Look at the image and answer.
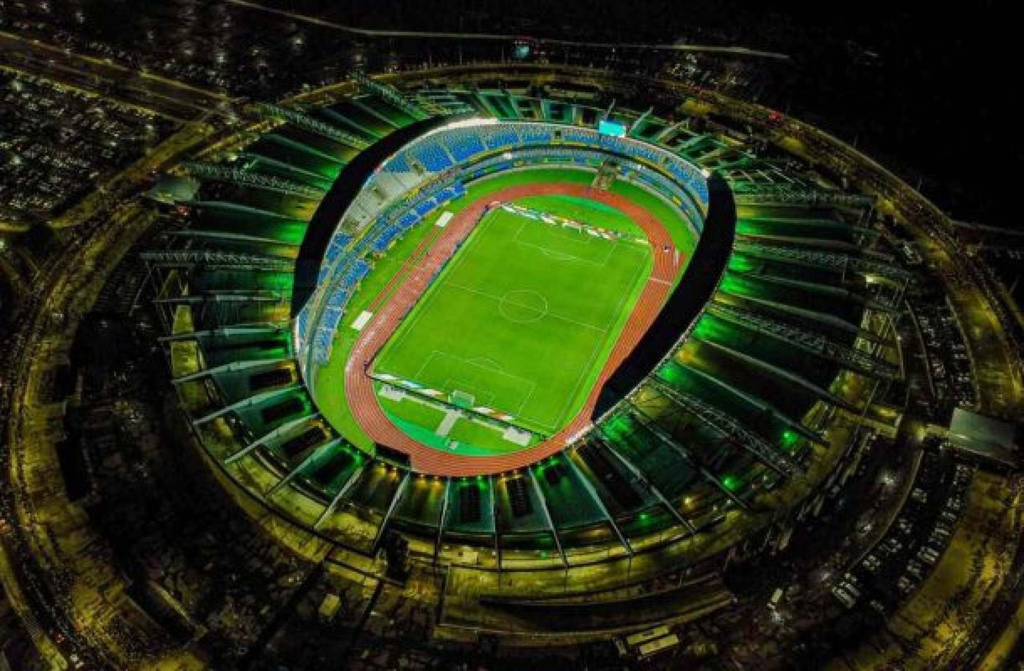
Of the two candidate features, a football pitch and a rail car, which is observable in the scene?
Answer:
football pitch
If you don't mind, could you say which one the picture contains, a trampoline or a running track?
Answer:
running track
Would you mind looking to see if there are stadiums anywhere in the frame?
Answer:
Yes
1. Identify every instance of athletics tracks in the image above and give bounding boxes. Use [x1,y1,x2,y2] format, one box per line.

[346,180,693,475]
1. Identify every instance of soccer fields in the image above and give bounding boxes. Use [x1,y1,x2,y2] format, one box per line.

[370,205,657,435]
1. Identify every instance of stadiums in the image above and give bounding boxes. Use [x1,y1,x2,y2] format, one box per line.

[139,74,915,667]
